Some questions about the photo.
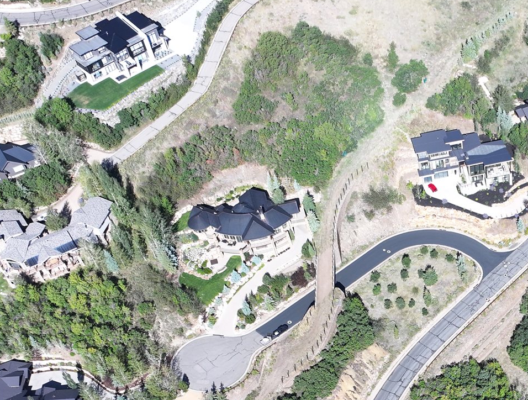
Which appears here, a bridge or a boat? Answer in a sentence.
There is a bridge in the scene.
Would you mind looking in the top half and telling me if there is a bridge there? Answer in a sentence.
No, no bridge appears in the top half.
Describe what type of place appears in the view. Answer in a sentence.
This image shows a residential area.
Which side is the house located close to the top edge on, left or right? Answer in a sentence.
The house located close to the top edge sits on the left side.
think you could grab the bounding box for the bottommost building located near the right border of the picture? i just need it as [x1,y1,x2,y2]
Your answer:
[411,128,515,199]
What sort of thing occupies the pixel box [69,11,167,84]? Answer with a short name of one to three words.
house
